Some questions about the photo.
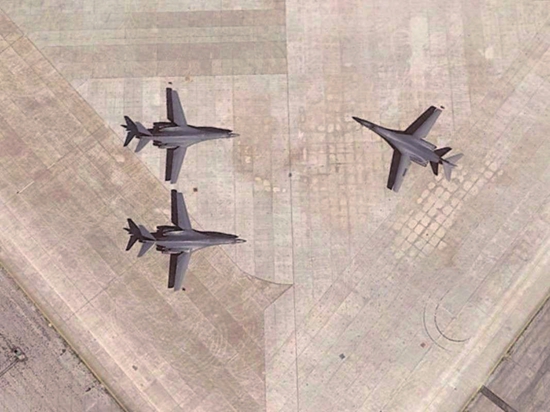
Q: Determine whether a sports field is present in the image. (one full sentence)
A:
No, the frame has no sports field in it.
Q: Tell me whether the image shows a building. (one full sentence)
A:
No, I can't see a single building in this photo.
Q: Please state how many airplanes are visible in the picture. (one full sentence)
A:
The picture shows 3 airplanes.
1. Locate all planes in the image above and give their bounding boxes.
[140,191,246,290]
[358,107,463,193]
[135,89,240,183]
